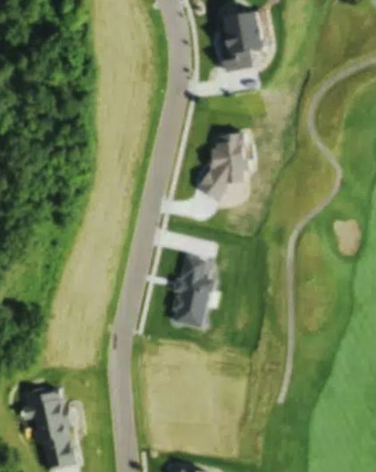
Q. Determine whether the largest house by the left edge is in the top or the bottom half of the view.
bottom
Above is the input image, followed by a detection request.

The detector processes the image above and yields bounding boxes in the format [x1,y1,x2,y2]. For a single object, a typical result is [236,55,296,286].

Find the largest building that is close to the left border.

[17,385,77,469]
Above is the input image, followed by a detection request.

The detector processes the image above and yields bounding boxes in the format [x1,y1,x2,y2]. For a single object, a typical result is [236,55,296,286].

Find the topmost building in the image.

[216,9,264,73]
